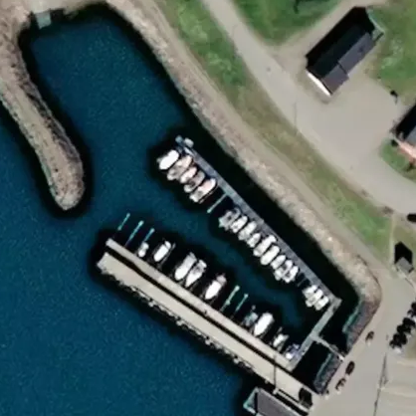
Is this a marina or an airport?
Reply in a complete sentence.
The area seen from above is a marina.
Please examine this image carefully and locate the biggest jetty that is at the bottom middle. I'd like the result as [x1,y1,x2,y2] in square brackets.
[97,253,319,411]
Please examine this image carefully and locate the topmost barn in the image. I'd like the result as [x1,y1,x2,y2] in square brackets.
[305,20,378,96]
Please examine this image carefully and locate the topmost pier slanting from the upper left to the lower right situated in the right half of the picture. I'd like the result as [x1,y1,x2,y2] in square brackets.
[176,136,340,302]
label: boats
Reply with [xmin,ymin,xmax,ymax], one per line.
[253,235,275,256]
[190,179,214,203]
[282,267,299,284]
[217,207,239,230]
[255,311,275,337]
[246,233,261,248]
[139,241,150,255]
[260,246,278,265]
[165,158,190,182]
[235,223,256,242]
[157,151,177,172]
[312,297,327,311]
[270,256,285,272]
[301,285,316,299]
[207,273,226,299]
[178,168,196,185]
[186,259,206,287]
[230,216,247,233]
[276,330,287,345]
[305,290,323,308]
[183,172,204,193]
[156,240,171,261]
[275,261,292,278]
[177,252,197,280]
[246,312,258,325]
